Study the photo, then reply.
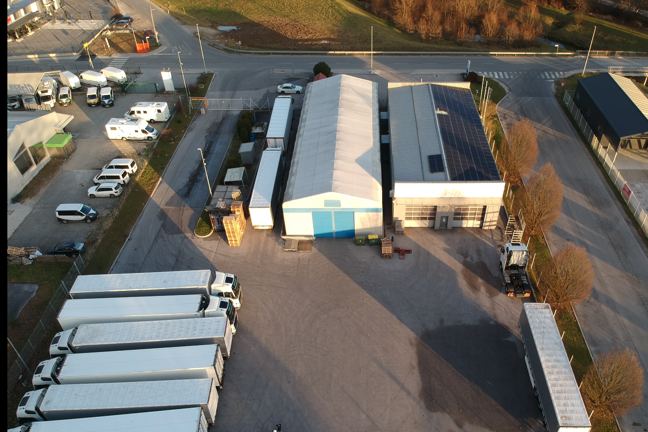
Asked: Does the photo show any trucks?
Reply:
Yes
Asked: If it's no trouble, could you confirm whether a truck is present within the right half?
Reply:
Yes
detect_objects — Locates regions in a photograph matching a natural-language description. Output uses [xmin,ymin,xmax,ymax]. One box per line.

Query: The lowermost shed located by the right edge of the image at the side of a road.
[572,70,648,168]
